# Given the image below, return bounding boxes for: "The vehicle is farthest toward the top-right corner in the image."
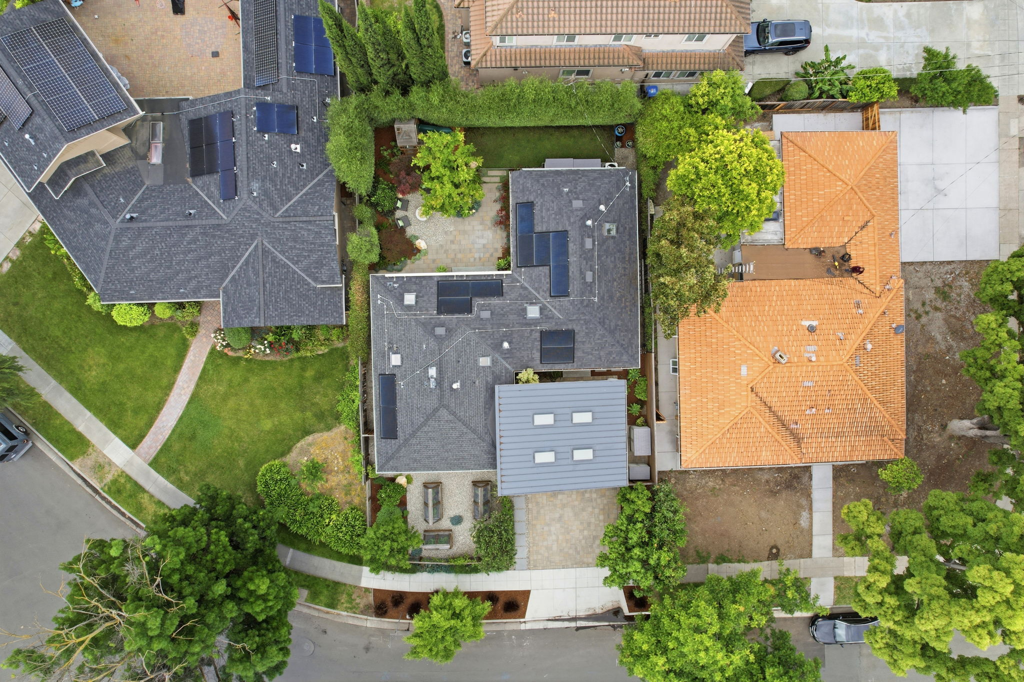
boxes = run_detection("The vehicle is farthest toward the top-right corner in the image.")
[745,16,813,57]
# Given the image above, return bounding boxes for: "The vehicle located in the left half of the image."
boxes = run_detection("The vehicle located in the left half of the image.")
[0,411,36,461]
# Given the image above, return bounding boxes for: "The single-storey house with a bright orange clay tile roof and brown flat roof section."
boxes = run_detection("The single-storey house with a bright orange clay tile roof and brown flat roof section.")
[664,130,910,470]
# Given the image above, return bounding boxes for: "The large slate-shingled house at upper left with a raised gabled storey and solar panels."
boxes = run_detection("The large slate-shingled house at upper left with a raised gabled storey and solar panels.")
[0,0,348,327]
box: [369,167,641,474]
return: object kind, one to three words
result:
house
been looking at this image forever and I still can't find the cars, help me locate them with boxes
[803,605,869,644]
[0,411,36,461]
[745,16,813,57]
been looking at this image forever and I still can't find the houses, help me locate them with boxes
[453,0,752,83]
[664,130,910,470]
[369,167,641,474]
[0,0,348,327]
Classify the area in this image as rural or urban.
urban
